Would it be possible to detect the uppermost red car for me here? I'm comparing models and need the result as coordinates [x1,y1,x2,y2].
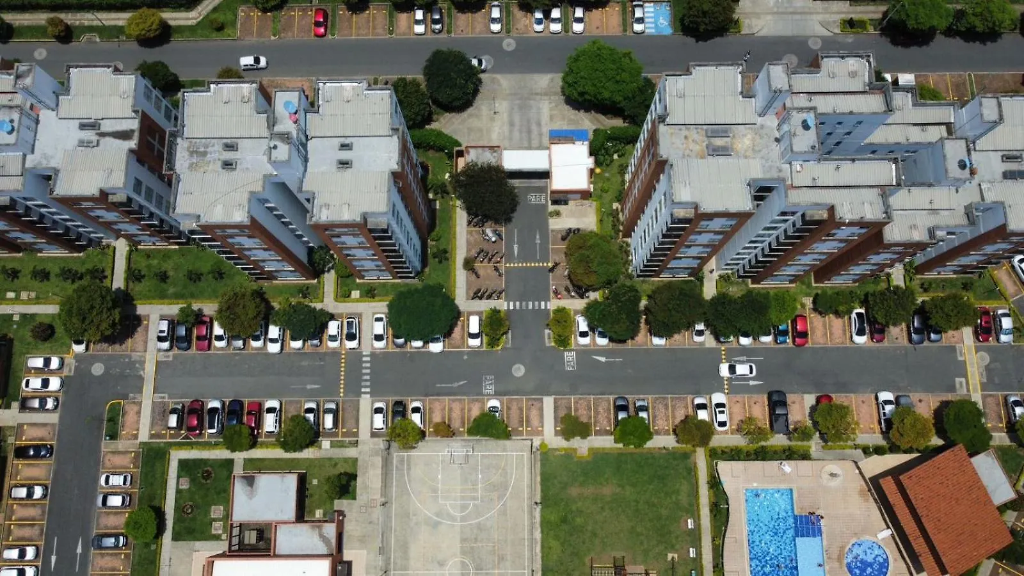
[313,10,328,37]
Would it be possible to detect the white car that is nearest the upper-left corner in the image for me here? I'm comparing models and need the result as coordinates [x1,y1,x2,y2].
[240,55,268,71]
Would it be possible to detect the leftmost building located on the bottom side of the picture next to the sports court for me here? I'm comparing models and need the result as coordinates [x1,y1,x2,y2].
[204,473,353,576]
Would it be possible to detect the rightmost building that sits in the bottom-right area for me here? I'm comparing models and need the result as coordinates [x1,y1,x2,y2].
[869,445,1013,576]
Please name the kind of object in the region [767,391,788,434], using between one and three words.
vehicle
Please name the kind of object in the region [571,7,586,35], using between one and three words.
car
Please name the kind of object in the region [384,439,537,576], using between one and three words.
sports court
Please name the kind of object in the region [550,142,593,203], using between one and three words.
building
